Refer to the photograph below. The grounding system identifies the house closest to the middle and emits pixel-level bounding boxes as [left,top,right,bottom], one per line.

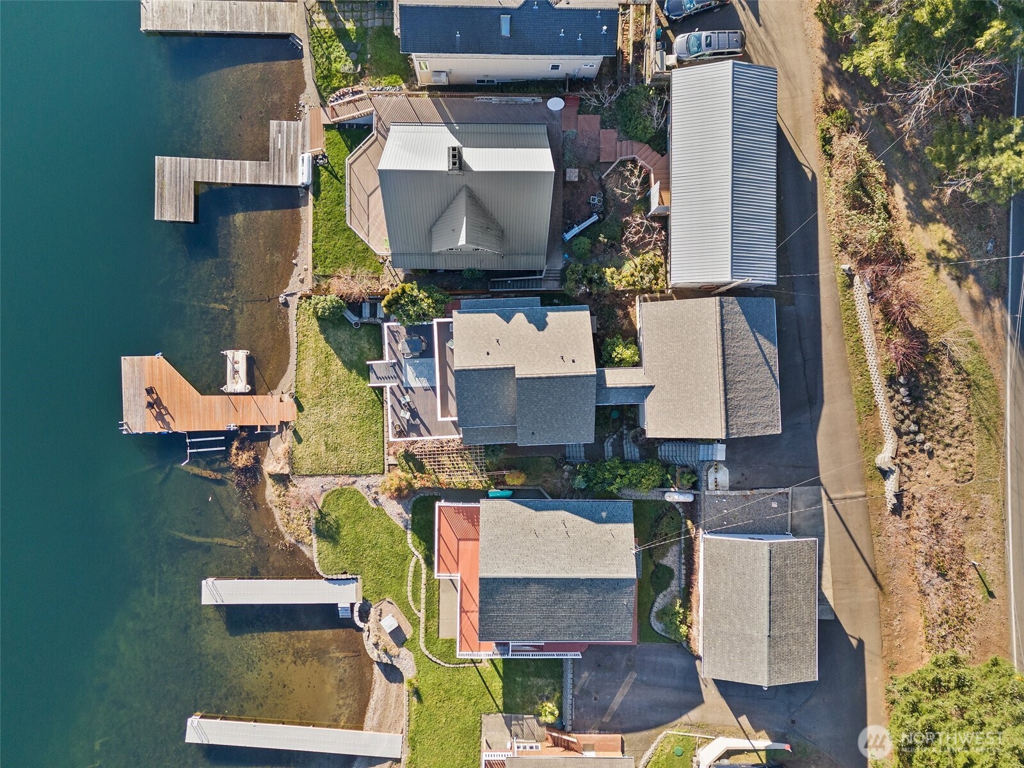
[453,295,597,448]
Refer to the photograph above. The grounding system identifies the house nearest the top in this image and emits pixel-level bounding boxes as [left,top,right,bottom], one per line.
[398,0,633,96]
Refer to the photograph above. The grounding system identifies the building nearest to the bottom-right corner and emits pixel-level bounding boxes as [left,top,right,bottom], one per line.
[695,530,819,691]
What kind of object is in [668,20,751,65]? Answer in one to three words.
vehicle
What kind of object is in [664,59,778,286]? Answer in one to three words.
building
